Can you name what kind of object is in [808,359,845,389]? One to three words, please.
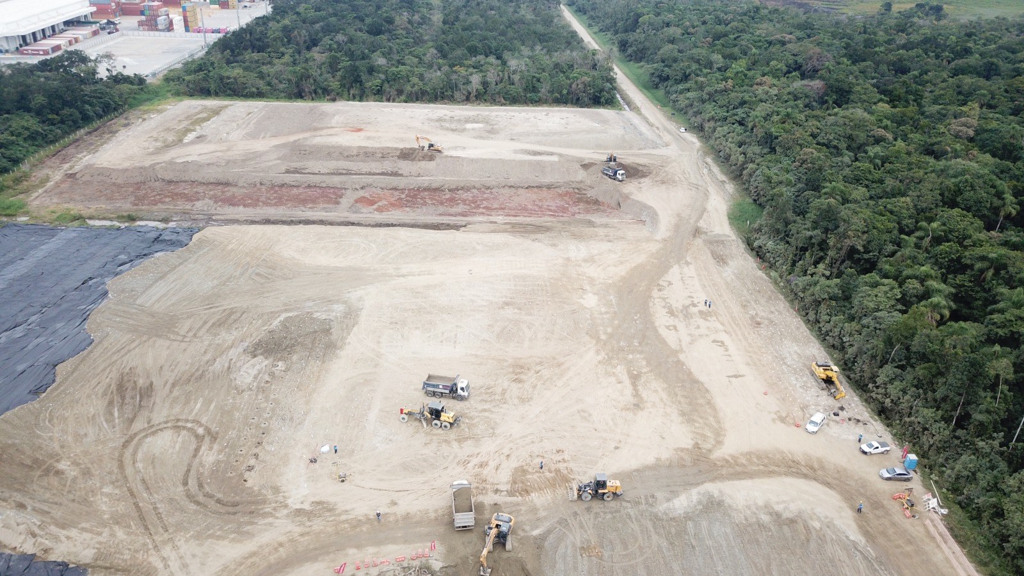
work vehicle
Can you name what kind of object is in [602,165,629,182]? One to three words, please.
vehicle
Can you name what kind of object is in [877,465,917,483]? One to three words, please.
car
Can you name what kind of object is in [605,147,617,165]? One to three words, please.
vehicle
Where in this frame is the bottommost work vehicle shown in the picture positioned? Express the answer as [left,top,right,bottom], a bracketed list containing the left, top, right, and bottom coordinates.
[477,510,516,575]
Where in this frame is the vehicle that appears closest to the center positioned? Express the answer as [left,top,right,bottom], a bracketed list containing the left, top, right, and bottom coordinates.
[422,375,470,402]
